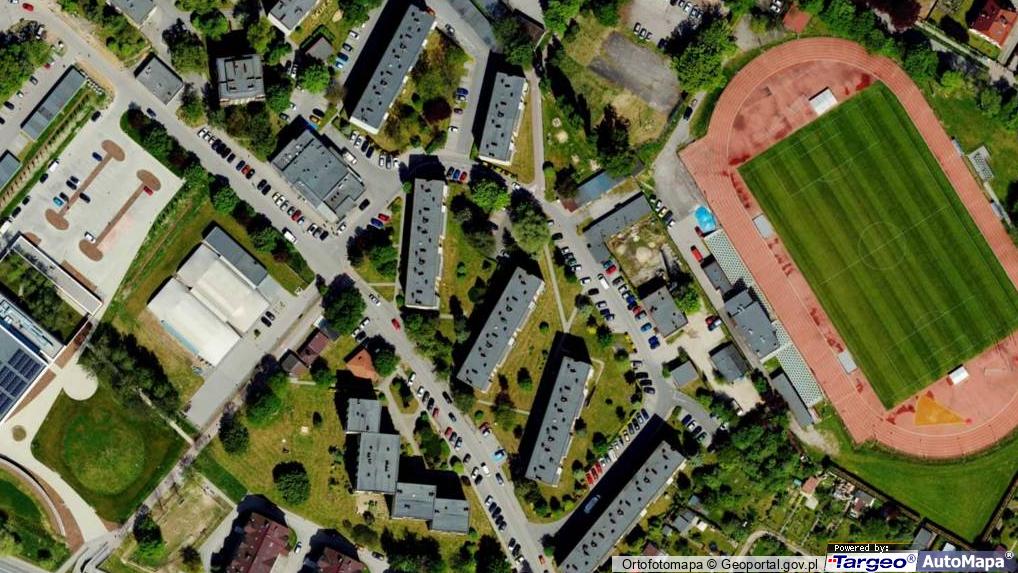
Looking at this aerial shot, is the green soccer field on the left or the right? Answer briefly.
right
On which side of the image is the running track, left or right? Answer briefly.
right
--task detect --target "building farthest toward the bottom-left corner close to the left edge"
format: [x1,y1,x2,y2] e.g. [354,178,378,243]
[0,323,53,428]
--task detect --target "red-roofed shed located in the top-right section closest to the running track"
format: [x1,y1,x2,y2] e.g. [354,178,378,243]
[783,6,811,33]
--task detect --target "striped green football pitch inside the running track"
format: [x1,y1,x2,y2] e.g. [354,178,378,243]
[739,81,1018,410]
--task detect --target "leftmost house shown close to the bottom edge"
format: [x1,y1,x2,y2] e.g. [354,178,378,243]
[222,511,292,573]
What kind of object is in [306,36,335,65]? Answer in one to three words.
shed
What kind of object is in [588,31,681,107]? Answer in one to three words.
sports court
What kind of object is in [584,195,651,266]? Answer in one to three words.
building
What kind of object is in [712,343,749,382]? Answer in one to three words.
house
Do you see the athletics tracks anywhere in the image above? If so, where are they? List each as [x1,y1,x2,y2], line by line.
[679,36,1018,457]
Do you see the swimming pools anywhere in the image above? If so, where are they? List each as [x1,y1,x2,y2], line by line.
[696,206,717,232]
